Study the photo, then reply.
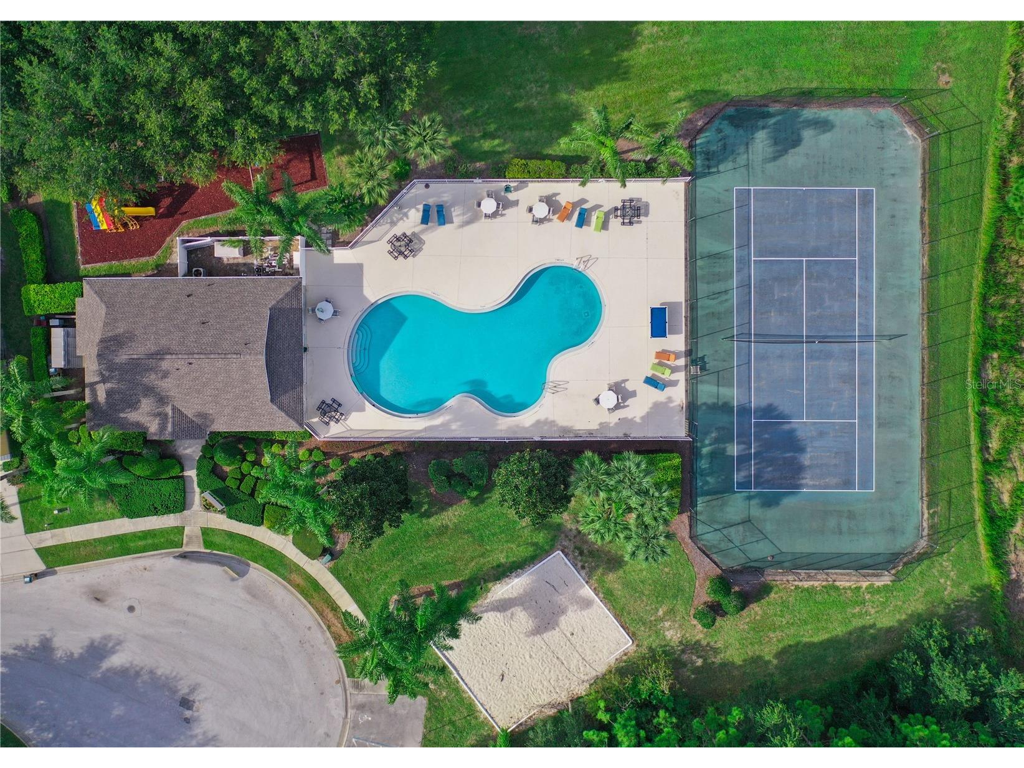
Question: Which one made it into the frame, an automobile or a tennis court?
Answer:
tennis court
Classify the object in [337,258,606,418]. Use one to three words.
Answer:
swimming pool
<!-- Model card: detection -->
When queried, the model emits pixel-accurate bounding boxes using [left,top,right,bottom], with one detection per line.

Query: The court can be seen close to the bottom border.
[436,551,633,731]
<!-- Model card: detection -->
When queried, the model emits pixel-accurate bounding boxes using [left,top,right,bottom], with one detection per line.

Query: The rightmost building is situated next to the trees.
[76,277,307,441]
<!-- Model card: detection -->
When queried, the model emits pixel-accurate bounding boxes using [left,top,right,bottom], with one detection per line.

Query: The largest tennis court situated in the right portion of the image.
[695,108,921,570]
